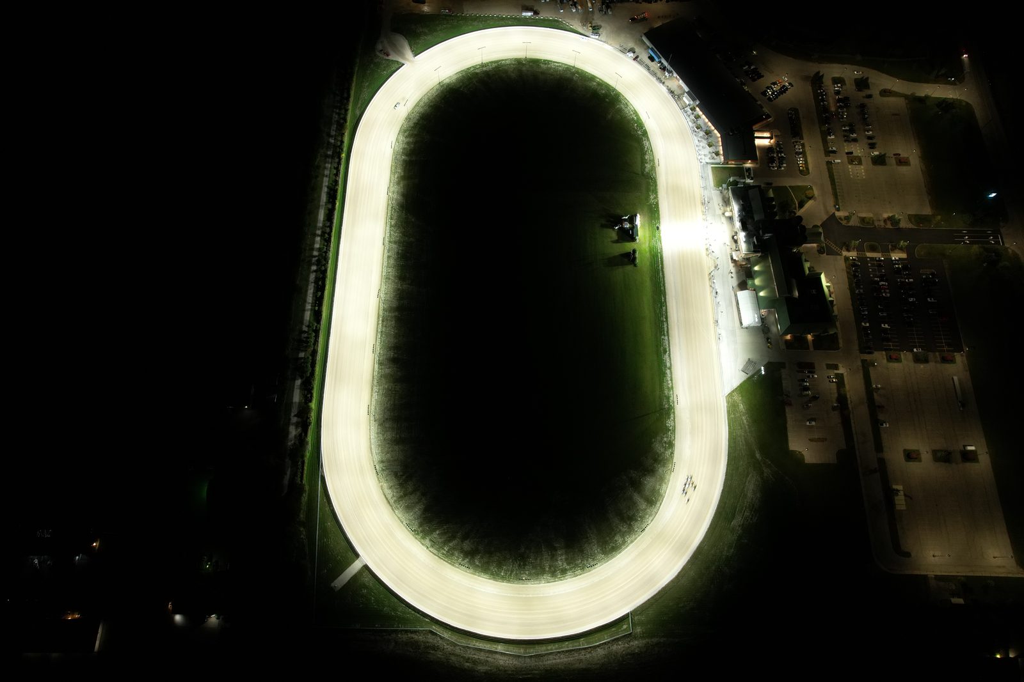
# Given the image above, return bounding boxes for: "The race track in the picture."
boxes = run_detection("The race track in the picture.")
[324,28,724,636]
